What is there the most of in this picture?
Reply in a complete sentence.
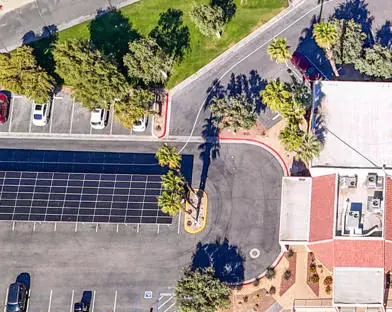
For the most part, this view shows paved ground.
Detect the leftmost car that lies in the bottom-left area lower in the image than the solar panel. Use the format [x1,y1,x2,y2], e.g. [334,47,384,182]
[4,283,26,312]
